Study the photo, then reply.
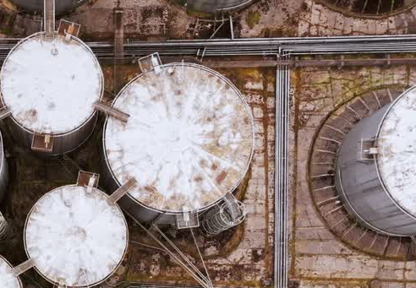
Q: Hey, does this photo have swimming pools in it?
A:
No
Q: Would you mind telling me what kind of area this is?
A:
industrial area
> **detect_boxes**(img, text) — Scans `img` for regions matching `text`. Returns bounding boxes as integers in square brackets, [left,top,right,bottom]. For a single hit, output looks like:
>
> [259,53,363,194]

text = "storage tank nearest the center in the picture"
[97,42,259,230]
